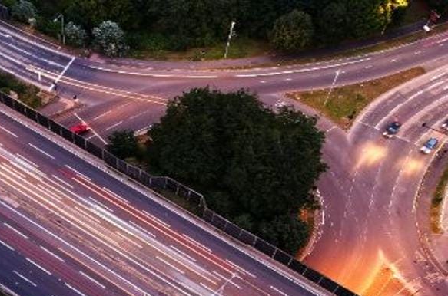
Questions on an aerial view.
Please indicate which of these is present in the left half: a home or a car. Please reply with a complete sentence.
It is a car that can be seen in the left half.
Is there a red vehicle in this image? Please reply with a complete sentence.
Yes, the frame does contain a red vehicle.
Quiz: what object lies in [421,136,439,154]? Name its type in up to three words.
car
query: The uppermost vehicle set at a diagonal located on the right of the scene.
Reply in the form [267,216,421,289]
[384,118,401,138]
